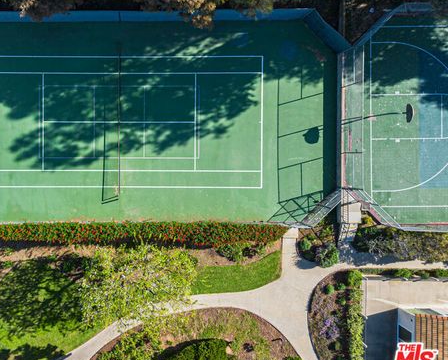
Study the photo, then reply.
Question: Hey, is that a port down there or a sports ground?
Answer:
sports ground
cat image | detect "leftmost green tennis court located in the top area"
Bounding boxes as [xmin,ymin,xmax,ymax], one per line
[0,21,337,223]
